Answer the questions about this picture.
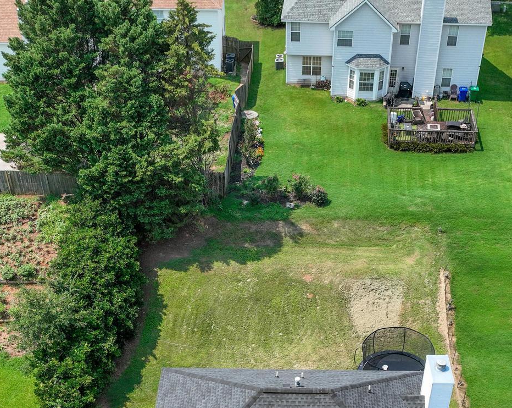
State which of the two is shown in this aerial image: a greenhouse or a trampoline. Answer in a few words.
trampoline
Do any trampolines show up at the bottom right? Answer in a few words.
Yes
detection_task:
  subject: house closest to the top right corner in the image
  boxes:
[280,0,494,100]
